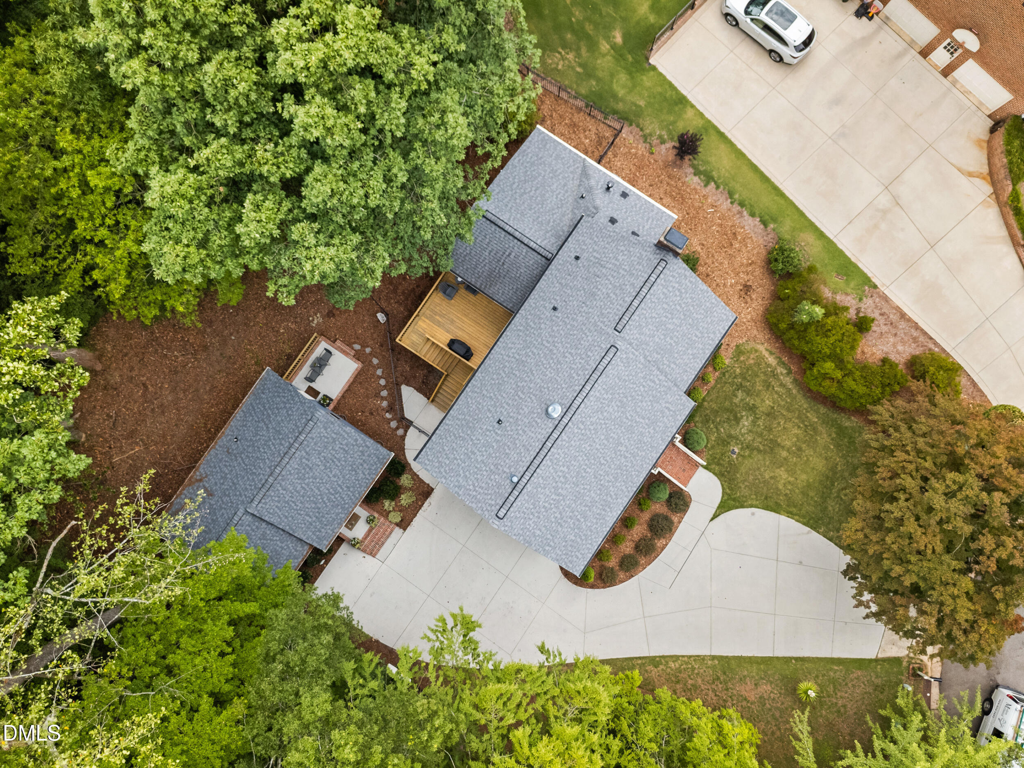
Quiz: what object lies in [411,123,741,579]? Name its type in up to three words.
house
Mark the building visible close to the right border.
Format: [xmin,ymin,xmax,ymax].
[857,0,1024,122]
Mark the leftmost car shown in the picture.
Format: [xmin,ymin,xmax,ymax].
[718,0,818,65]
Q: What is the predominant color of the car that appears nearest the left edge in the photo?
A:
white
